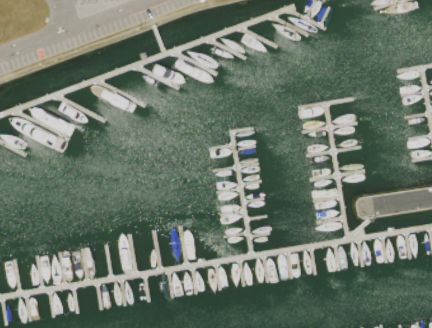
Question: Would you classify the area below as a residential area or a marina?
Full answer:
What you see here is a marina.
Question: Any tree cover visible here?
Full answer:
No, the scene doesn't show any tree cover.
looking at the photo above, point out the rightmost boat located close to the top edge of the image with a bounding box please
[383,0,418,14]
